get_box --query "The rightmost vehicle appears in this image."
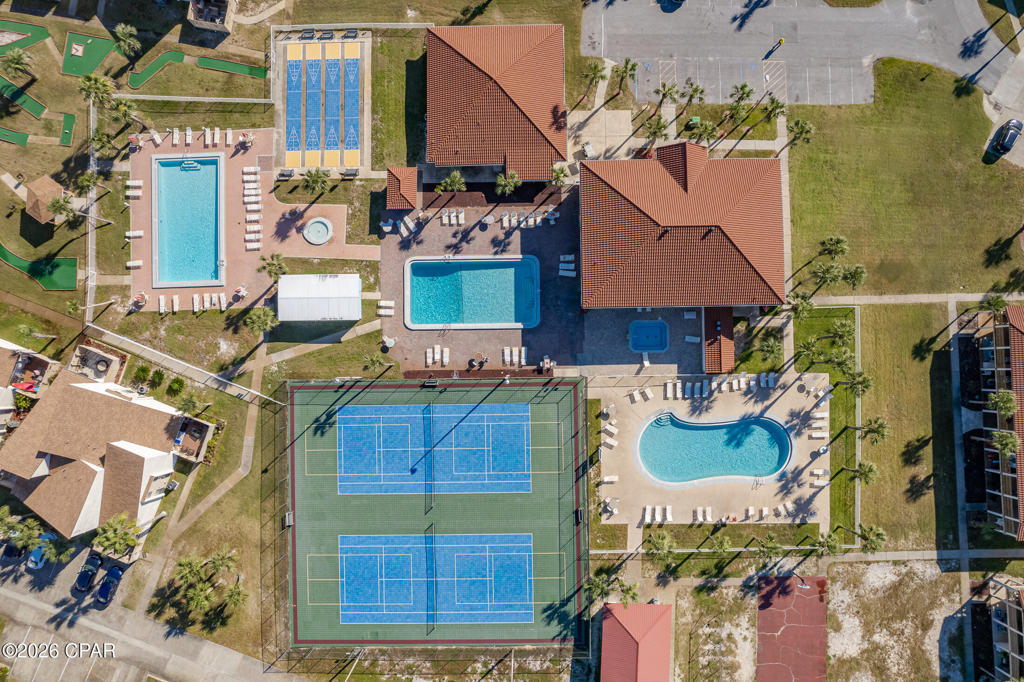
[993,117,1022,156]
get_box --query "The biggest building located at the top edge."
[423,24,568,183]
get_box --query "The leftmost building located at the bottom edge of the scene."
[598,594,672,682]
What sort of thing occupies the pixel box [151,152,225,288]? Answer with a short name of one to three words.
swimming pool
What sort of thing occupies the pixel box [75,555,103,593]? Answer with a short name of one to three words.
car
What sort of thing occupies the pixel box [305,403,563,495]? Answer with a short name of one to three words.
tennis court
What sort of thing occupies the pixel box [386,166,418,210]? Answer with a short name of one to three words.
shed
